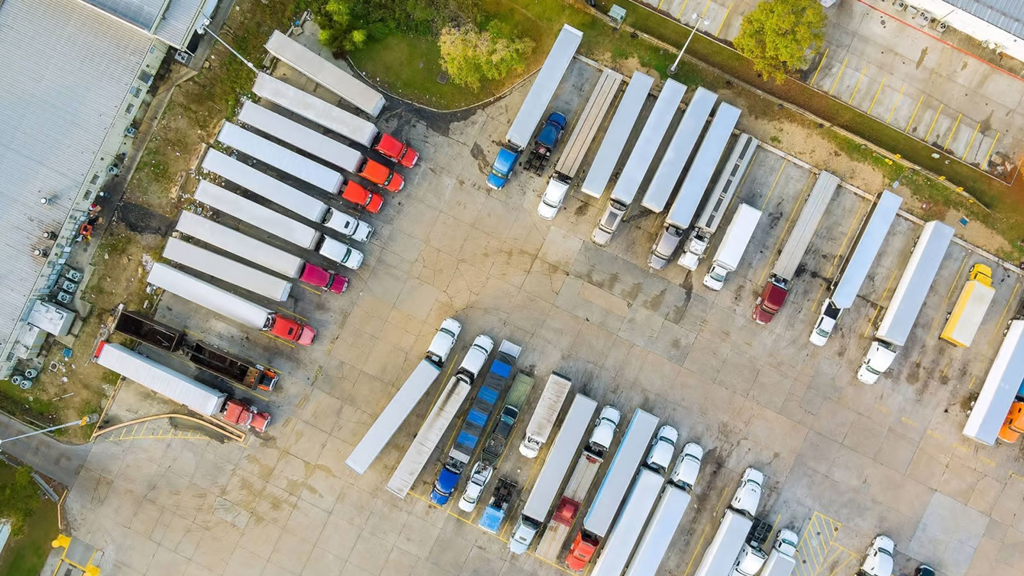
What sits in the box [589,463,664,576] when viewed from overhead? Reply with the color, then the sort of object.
white trailer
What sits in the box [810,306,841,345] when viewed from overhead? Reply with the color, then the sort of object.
white truck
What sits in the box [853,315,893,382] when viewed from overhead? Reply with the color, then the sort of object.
white truck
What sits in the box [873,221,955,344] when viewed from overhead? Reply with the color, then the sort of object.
white trailer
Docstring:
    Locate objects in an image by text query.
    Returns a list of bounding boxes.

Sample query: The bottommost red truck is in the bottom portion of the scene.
[566,523,599,570]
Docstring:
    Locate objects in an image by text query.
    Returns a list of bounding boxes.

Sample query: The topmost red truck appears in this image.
[372,131,419,169]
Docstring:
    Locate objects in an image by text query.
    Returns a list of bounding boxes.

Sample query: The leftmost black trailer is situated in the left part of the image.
[114,311,195,351]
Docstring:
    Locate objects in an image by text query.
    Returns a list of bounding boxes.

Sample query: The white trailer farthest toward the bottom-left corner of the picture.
[97,340,228,415]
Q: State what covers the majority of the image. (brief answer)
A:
paved ground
